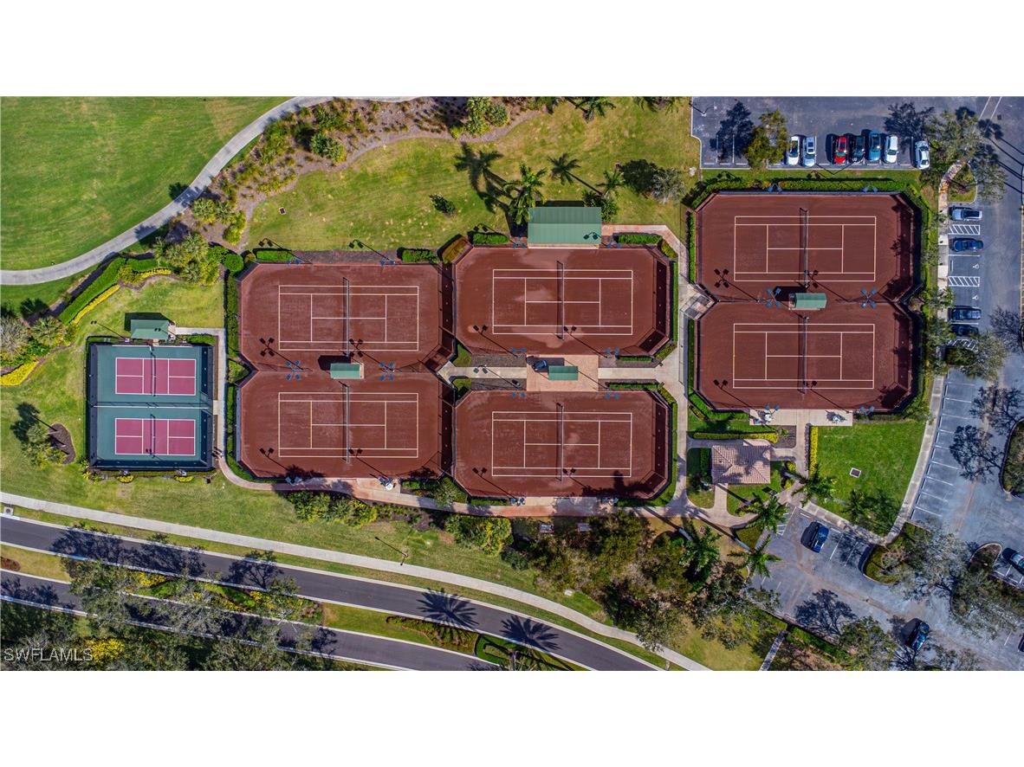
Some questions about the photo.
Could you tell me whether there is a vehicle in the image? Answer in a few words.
Yes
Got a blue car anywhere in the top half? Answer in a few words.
Yes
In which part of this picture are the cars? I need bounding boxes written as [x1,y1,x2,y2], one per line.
[804,136,819,165]
[911,623,932,652]
[952,323,982,336]
[917,140,933,168]
[955,237,986,251]
[835,134,851,163]
[954,306,985,320]
[809,524,830,553]
[885,133,901,162]
[954,205,986,220]
[853,133,868,162]
[788,135,802,163]
[869,130,885,160]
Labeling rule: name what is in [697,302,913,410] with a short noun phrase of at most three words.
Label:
tennis court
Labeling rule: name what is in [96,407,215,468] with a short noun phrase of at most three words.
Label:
sports court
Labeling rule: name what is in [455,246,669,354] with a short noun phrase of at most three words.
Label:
tennis court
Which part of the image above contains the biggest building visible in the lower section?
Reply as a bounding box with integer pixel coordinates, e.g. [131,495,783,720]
[711,445,771,484]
